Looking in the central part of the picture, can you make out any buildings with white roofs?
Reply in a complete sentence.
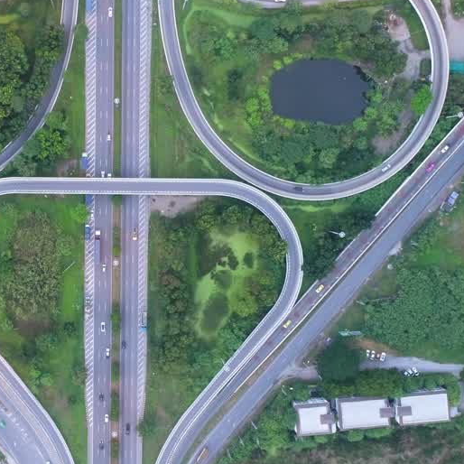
No, no building with a white roof can be made out in the central part of the picture.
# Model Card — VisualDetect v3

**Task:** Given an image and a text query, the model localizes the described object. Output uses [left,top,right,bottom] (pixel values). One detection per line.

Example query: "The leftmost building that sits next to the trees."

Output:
[289,393,335,436]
